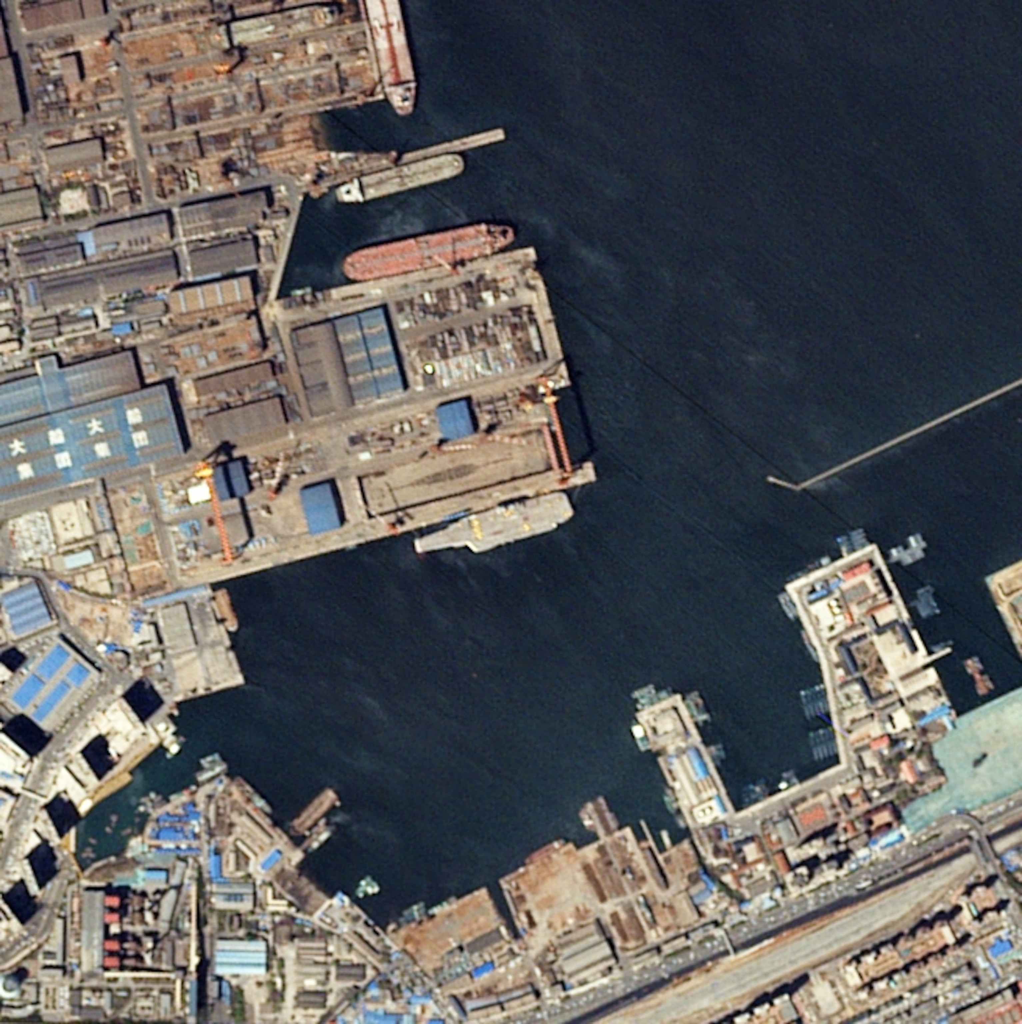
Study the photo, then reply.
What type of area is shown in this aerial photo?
port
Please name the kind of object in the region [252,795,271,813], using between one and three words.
boat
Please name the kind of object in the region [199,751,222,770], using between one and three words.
vessel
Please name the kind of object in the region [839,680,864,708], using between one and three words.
shed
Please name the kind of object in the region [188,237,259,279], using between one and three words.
building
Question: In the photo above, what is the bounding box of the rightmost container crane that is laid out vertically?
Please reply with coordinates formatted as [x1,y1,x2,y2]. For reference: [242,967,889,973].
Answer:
[541,374,576,482]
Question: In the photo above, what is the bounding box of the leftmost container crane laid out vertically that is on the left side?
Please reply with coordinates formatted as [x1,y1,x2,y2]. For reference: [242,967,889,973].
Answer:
[196,460,237,565]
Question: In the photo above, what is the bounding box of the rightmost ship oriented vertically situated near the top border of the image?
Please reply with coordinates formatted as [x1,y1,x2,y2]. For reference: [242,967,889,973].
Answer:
[362,0,415,118]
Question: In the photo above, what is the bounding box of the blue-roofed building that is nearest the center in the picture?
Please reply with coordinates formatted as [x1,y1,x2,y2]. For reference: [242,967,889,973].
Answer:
[437,398,475,440]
